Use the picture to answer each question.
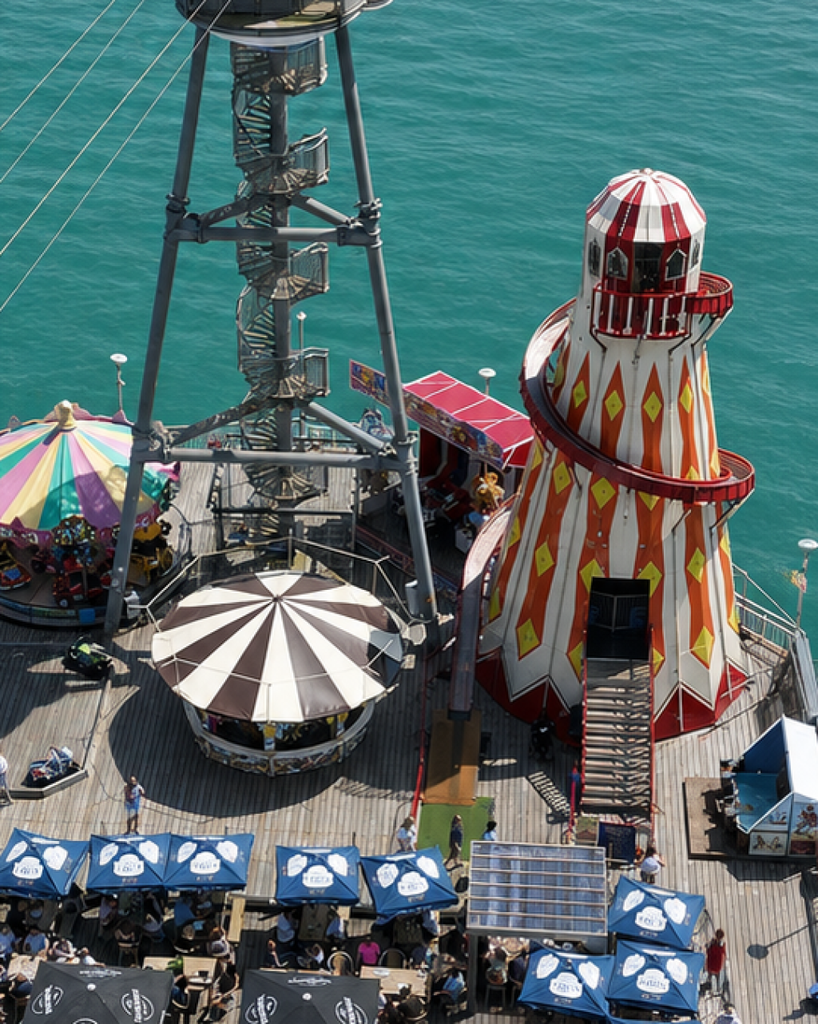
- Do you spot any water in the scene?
Yes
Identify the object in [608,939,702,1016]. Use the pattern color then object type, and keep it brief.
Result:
blue umbrella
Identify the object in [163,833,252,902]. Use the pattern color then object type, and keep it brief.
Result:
blue umbrella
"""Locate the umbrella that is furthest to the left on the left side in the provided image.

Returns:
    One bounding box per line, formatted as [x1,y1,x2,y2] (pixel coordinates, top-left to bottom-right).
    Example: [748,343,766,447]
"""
[0,831,85,909]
